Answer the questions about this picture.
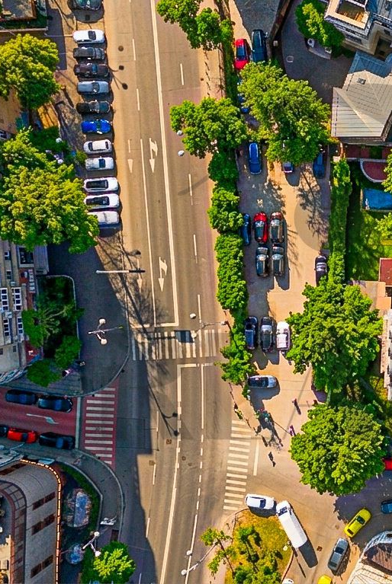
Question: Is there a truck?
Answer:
Yes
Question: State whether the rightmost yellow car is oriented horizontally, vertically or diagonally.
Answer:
diagonally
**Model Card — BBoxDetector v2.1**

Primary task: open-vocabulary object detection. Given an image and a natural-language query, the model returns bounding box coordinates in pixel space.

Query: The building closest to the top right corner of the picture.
[325,0,392,59]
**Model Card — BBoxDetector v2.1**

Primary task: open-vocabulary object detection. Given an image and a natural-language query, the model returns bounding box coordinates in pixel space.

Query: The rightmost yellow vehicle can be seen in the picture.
[345,508,369,537]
